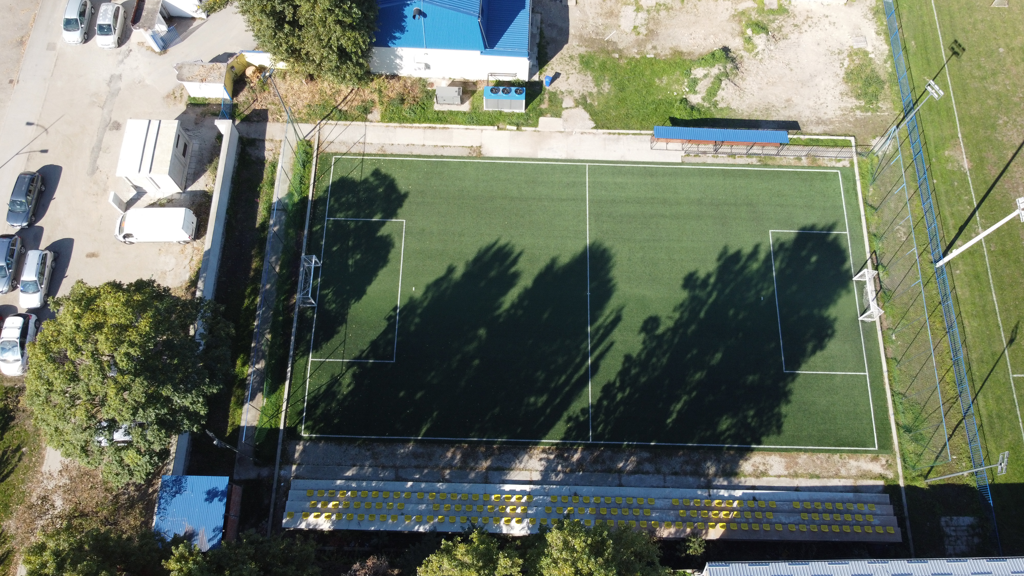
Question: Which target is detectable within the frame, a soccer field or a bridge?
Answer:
soccer field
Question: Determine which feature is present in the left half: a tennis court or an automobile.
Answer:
automobile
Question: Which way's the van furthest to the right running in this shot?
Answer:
from side to side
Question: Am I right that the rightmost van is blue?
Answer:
No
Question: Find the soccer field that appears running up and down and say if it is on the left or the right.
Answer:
right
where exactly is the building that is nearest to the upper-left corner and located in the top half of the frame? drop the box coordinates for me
[128,0,171,47]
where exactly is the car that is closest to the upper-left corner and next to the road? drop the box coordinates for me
[57,0,93,45]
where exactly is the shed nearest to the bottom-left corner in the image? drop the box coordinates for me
[151,475,243,551]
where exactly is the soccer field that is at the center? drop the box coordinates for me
[284,153,891,459]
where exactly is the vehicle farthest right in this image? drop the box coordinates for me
[113,209,197,245]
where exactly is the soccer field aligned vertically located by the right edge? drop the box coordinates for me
[890,0,1024,563]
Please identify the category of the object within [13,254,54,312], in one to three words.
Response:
car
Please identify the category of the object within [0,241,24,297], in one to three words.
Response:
car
